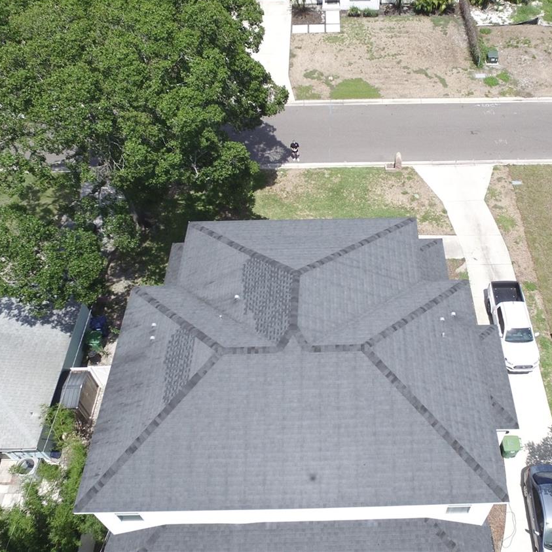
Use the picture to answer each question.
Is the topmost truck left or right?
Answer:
right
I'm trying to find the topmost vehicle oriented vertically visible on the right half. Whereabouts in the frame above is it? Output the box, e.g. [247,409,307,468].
[487,283,544,380]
